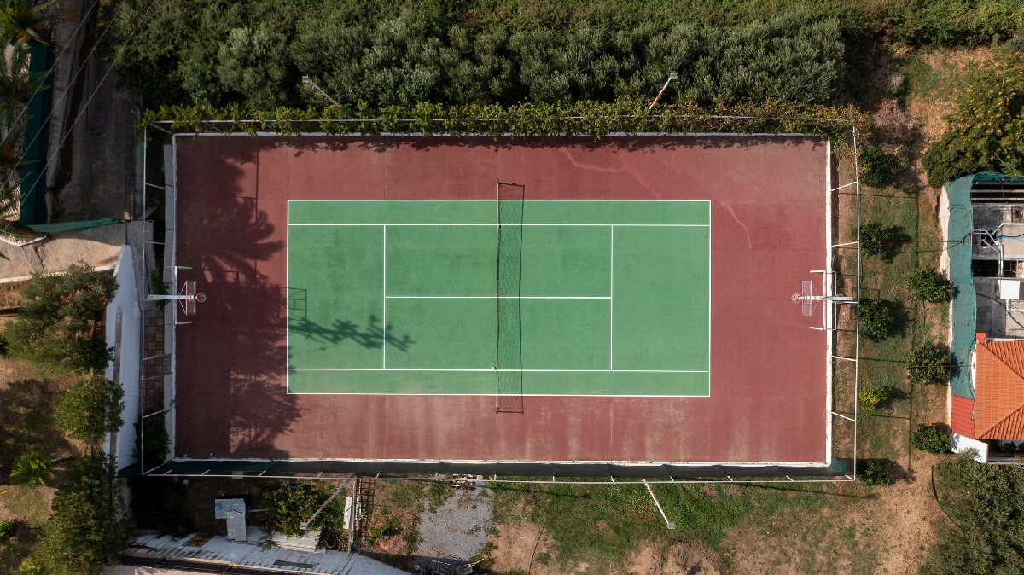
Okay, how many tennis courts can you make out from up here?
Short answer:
1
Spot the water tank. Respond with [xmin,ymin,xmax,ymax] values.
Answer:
[994,280,1023,300]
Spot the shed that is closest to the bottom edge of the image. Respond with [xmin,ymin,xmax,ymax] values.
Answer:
[117,528,420,575]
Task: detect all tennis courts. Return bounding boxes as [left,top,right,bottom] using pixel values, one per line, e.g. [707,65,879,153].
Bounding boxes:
[175,135,827,462]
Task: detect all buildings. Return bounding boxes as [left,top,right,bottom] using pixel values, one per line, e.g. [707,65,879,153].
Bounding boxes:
[117,528,420,575]
[944,177,1024,464]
